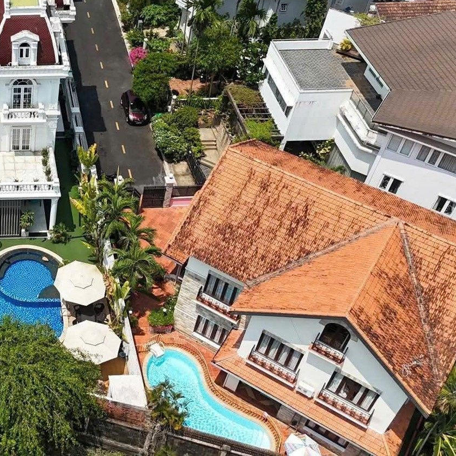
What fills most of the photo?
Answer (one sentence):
The bulk of the photo consists of buildings.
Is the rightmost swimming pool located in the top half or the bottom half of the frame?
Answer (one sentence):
You can find the rightmost swimming pool in the bottom half.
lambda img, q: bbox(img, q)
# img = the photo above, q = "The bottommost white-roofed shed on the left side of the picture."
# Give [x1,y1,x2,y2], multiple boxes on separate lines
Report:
[106,375,147,422]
